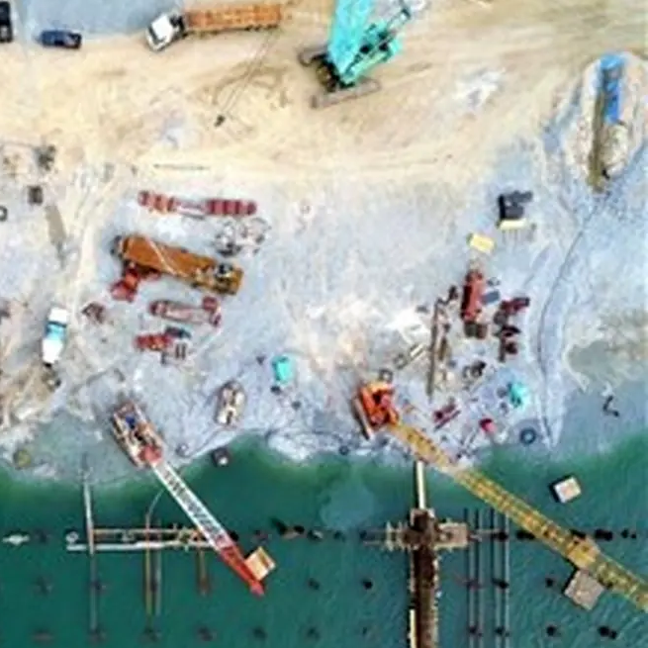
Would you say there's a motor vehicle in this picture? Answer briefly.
Yes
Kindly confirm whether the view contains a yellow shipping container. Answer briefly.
No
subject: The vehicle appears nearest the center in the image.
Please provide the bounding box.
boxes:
[214,383,246,424]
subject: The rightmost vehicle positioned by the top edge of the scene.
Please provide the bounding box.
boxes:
[151,0,286,43]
